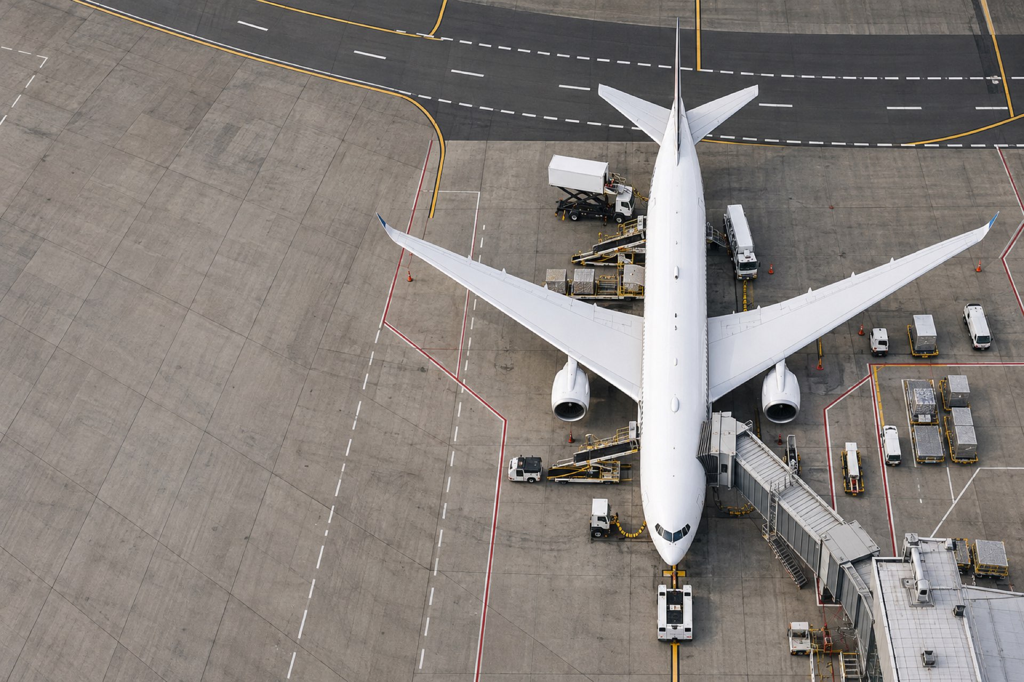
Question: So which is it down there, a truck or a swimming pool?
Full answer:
There is a truck in the scene.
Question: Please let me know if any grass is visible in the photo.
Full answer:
No, there is no grass in the image.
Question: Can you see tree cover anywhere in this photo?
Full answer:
No, there is no tree cover in the image.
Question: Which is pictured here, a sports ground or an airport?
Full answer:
The area seen from above is an airport.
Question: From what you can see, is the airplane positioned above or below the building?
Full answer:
The airplane is found above the building in the photo.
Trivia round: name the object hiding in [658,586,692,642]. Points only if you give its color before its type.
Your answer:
white work vehicle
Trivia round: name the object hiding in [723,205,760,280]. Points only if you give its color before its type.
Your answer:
white truck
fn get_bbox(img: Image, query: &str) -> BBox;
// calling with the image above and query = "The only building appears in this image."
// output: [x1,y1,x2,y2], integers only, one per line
[872,526,1024,682]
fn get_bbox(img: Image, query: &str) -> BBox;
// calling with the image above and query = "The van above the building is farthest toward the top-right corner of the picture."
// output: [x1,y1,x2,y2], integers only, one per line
[962,301,994,348]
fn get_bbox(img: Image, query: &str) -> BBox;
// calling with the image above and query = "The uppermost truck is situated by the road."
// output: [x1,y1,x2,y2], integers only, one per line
[549,151,639,220]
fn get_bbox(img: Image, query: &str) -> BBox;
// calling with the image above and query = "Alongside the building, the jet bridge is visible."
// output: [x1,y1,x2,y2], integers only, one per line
[699,411,884,665]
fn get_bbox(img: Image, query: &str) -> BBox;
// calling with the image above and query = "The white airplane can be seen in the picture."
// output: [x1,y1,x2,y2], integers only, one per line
[378,20,998,564]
